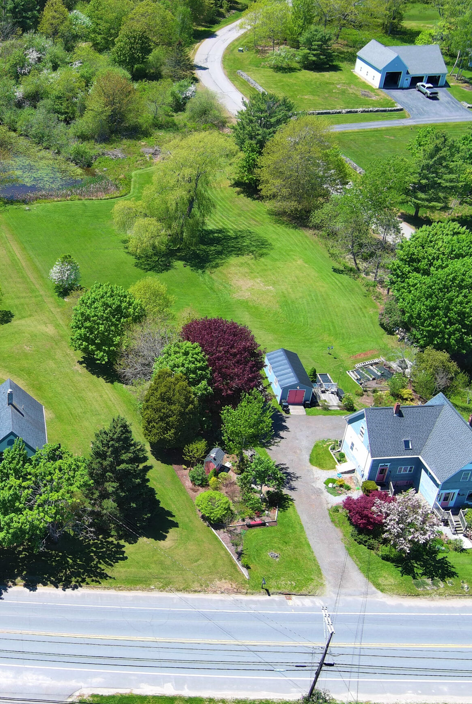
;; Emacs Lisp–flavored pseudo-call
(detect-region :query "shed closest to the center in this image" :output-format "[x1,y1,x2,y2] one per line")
[266,347,315,414]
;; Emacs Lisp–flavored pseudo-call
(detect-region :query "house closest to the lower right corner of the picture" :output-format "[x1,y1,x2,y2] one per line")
[342,384,472,527]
